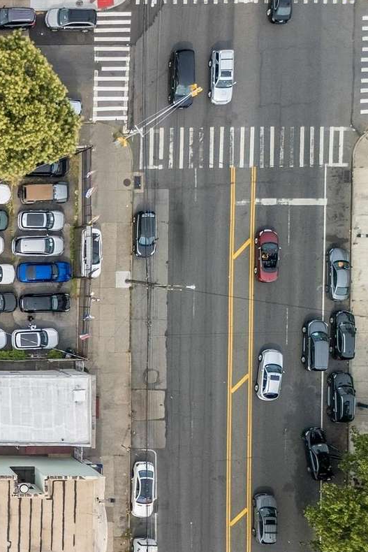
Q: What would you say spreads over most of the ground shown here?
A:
paved ground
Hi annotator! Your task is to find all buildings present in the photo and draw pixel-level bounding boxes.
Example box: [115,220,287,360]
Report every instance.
[0,357,100,458]
[0,459,115,552]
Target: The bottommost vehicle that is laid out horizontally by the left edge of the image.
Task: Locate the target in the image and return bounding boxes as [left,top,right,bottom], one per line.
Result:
[10,327,58,351]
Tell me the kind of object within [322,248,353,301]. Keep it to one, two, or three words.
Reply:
car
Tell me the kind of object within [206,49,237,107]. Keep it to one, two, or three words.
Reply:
car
